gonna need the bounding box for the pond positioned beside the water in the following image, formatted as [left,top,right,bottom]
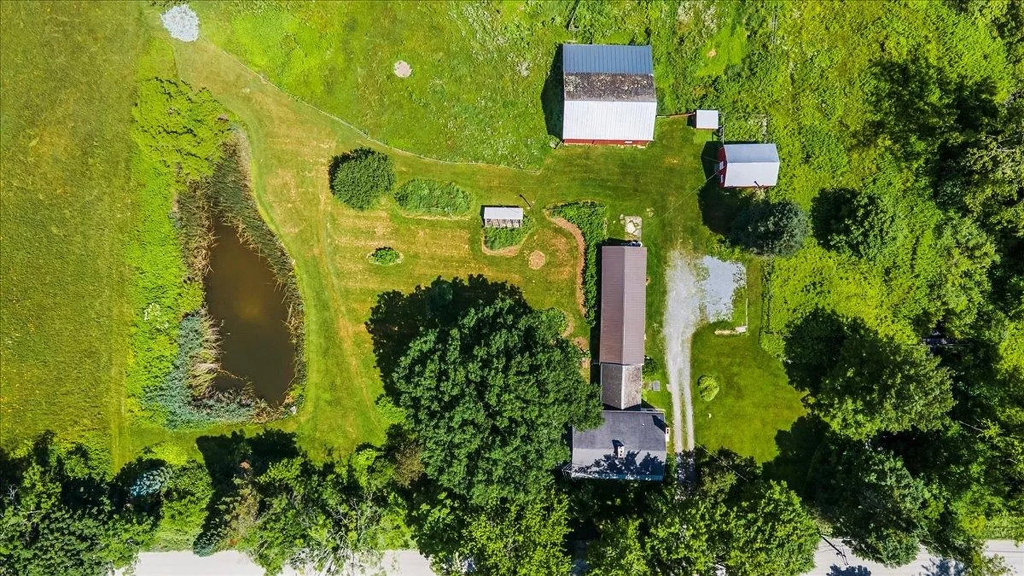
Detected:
[205,213,297,405]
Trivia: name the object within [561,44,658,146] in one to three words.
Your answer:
barn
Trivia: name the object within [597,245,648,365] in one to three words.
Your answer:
shed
